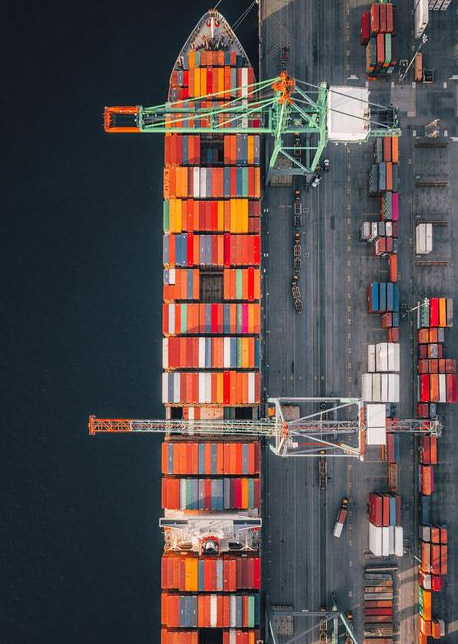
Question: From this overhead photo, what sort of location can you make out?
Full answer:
This looks like a port.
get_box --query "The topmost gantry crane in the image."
[103,69,405,192]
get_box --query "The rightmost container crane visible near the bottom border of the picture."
[268,598,362,644]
